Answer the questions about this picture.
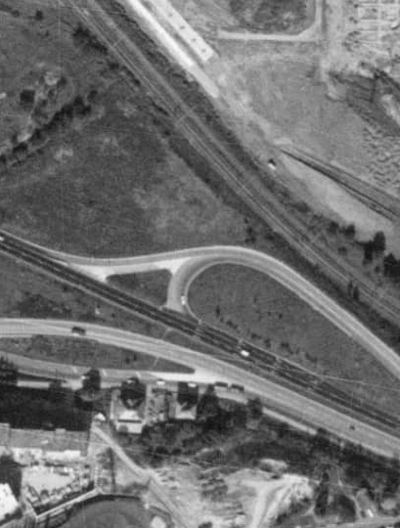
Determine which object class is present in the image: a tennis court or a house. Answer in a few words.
house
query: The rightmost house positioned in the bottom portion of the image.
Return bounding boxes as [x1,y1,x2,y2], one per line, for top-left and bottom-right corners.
[175,405,196,425]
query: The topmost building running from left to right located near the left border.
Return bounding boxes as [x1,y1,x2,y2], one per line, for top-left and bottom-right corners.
[9,426,92,455]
